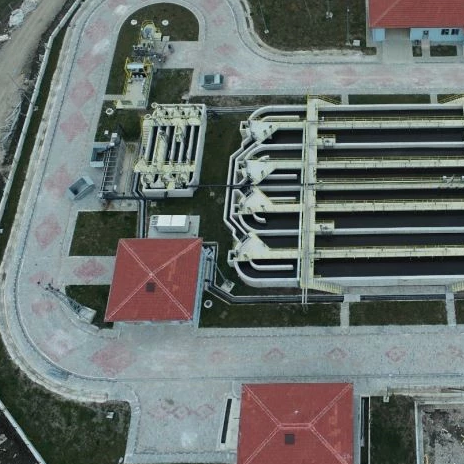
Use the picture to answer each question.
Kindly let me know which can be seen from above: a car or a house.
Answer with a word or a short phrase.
house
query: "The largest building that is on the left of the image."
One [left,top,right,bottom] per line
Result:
[103,237,205,328]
